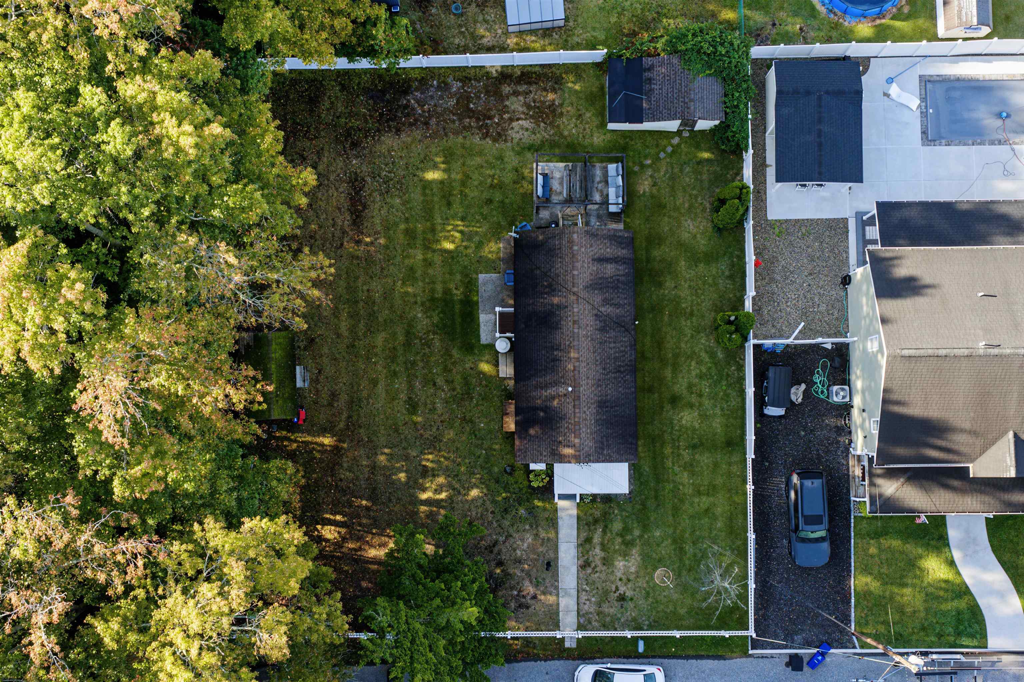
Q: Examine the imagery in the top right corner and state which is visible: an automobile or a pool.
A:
pool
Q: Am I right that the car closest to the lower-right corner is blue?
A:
Yes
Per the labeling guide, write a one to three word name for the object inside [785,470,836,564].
car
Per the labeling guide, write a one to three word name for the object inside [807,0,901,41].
swimming pool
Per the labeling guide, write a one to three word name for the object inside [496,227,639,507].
house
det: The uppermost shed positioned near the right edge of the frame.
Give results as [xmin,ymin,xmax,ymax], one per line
[938,0,1008,38]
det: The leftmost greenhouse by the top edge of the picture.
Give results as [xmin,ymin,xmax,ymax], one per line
[507,0,565,32]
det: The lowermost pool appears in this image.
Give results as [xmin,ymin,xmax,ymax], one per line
[920,74,1024,146]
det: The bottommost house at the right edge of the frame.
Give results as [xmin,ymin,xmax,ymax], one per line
[850,199,1024,520]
